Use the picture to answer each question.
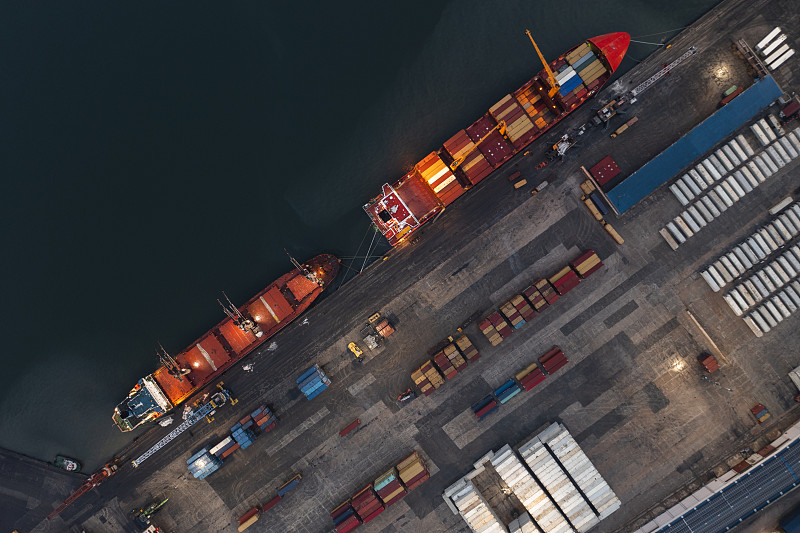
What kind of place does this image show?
port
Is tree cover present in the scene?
No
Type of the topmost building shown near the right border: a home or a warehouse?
warehouse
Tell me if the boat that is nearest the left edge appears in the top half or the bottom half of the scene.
bottom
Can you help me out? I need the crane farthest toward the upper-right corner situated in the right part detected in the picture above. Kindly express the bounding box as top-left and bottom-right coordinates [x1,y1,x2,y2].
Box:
[584,45,698,131]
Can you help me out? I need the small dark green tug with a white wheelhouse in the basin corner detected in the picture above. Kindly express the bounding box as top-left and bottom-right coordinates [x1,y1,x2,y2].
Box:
[54,453,84,474]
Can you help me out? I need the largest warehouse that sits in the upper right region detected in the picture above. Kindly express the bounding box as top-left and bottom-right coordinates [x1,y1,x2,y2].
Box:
[603,73,785,215]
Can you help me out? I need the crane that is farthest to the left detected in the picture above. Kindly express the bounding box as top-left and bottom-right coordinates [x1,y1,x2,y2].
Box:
[44,449,133,524]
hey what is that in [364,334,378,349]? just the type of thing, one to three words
vehicle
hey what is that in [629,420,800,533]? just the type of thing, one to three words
shed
